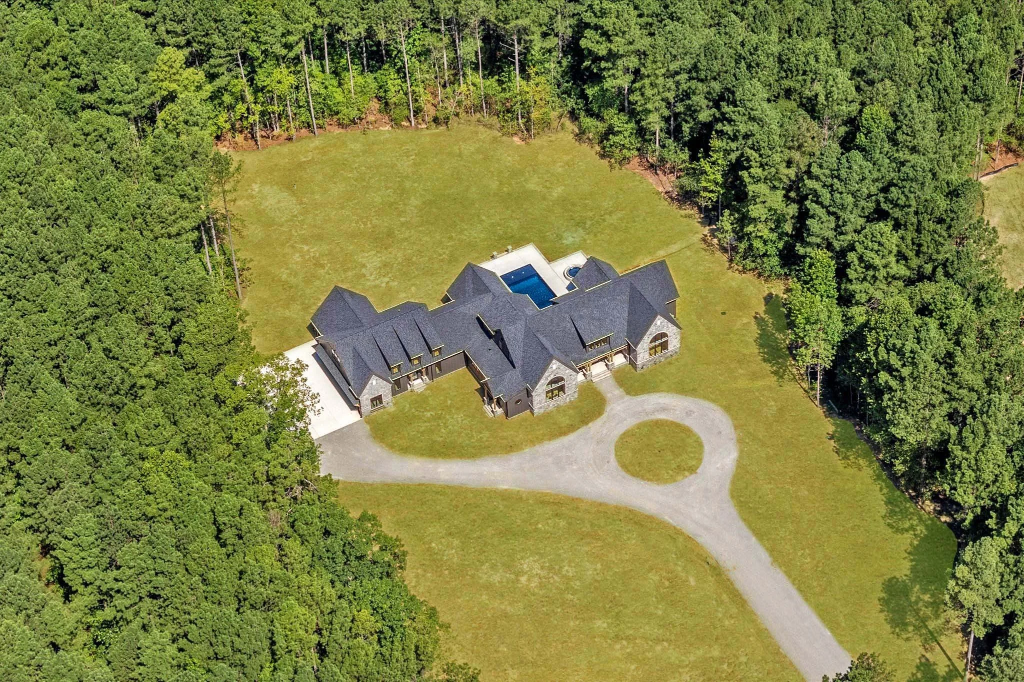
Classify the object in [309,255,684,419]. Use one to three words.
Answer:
house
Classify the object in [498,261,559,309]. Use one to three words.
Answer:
swimming pool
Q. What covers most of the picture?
trees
